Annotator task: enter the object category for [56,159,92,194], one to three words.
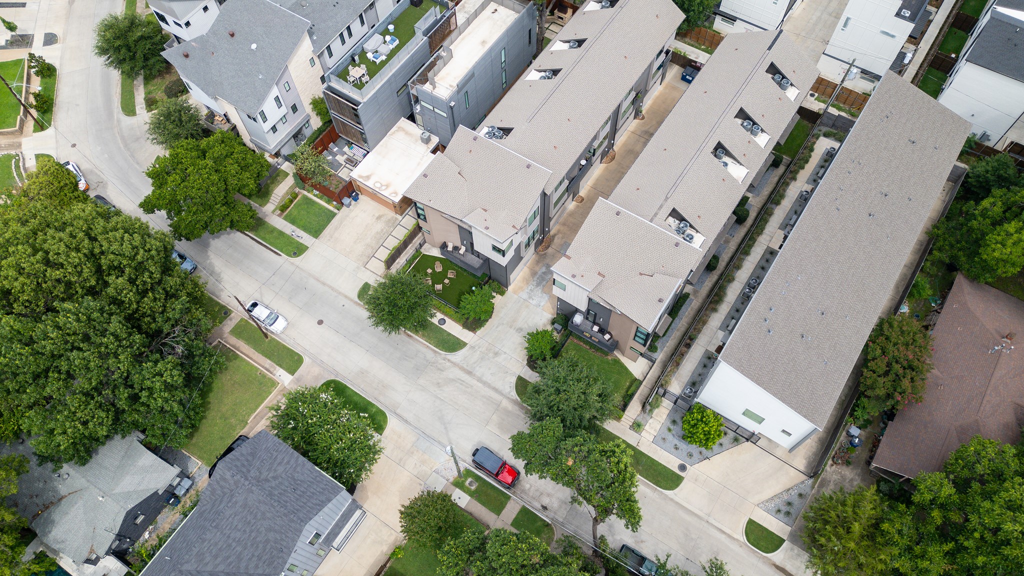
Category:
car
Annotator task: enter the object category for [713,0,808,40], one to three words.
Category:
house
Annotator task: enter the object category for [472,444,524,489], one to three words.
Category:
car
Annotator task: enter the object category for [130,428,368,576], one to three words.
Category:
house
